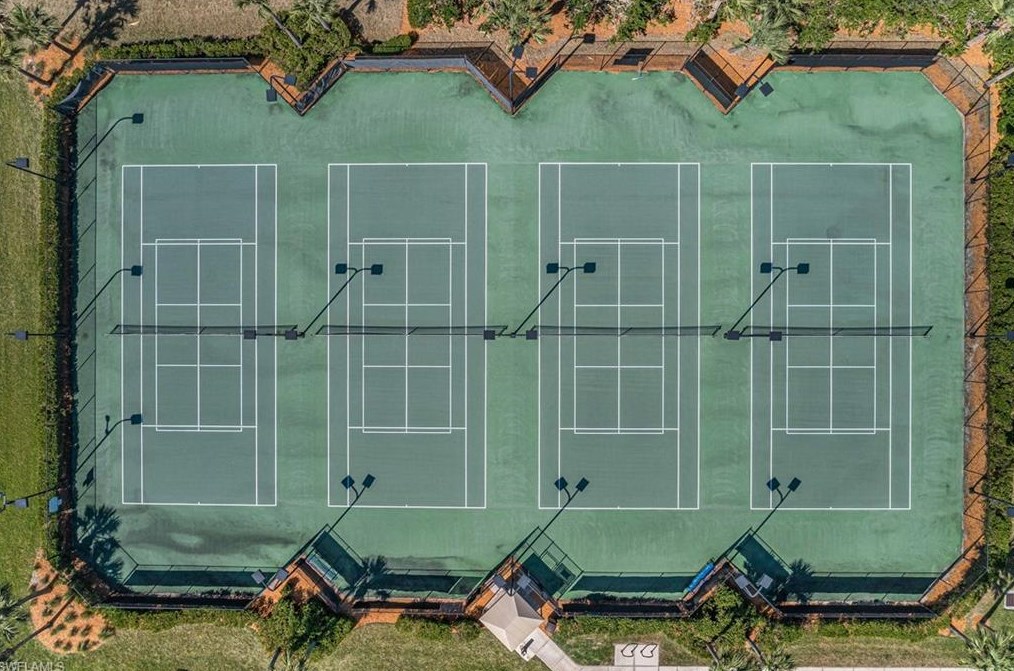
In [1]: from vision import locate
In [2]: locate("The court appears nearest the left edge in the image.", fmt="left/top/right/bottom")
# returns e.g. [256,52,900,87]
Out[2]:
[122,163,277,506]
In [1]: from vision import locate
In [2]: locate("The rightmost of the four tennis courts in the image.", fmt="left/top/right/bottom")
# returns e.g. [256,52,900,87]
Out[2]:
[751,163,912,511]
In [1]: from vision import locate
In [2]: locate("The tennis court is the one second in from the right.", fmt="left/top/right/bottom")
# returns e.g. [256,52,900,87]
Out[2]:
[539,162,700,510]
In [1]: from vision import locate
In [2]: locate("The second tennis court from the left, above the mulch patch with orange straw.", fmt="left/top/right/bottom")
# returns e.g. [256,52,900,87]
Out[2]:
[328,162,487,509]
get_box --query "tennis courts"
[751,163,912,511]
[328,162,487,509]
[122,163,277,506]
[539,162,700,510]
